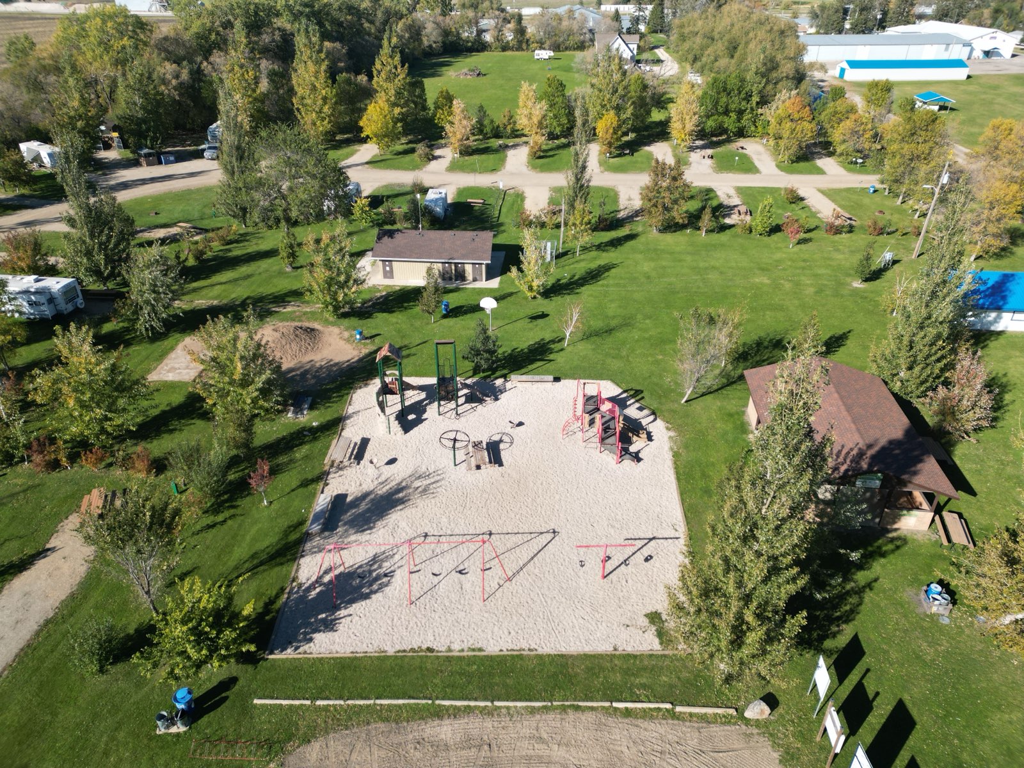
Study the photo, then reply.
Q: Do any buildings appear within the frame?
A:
Yes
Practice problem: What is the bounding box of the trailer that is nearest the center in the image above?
[426,177,455,218]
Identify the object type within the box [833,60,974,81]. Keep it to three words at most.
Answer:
shed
